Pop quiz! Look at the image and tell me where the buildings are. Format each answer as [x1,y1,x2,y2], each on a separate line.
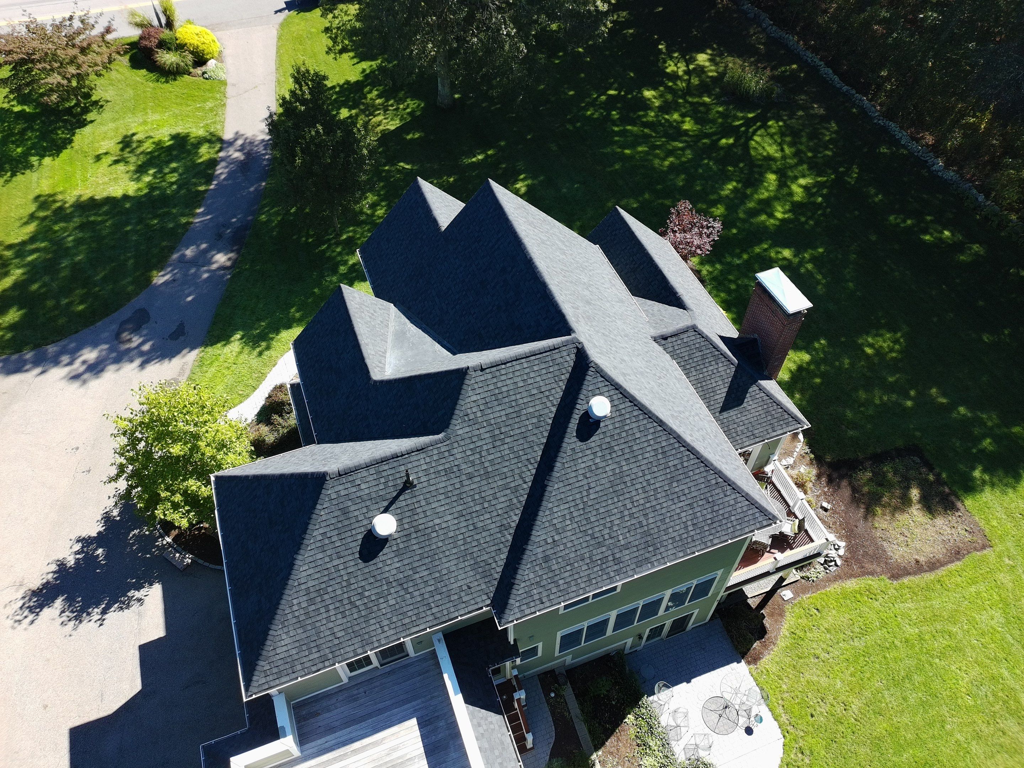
[200,177,815,768]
